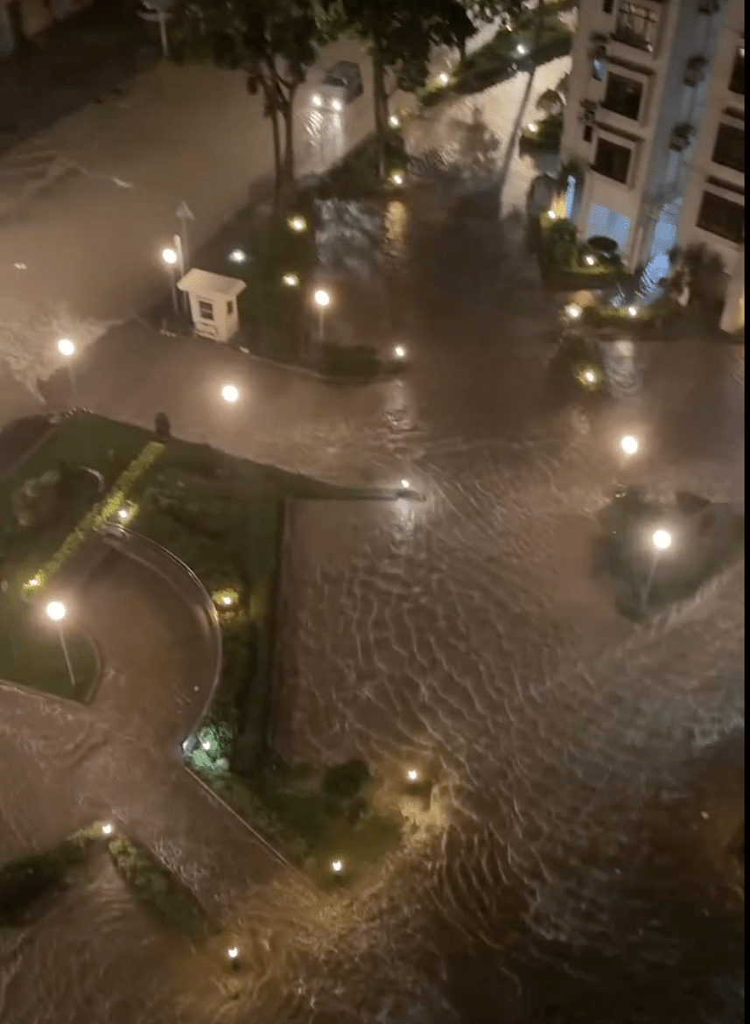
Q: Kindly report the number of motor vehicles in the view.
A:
1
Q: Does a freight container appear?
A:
No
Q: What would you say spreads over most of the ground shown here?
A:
water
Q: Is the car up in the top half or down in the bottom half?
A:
top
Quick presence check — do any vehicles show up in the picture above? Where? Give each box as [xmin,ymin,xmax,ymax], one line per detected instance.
[315,66,357,115]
